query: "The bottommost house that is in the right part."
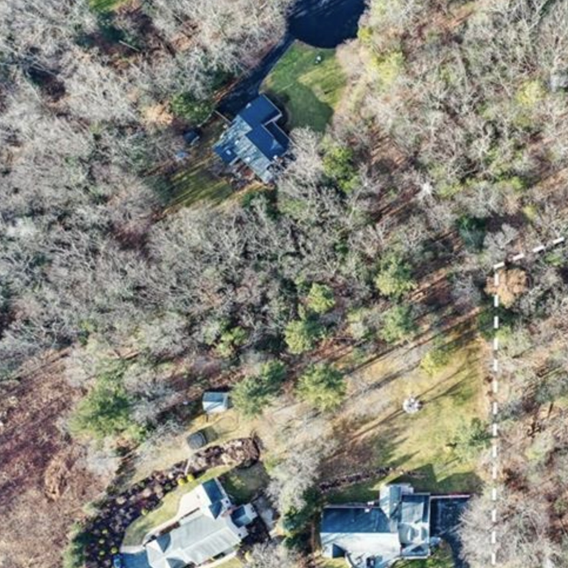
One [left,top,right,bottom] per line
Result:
[320,478,434,562]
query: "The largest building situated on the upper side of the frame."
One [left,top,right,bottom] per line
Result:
[213,96,296,181]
